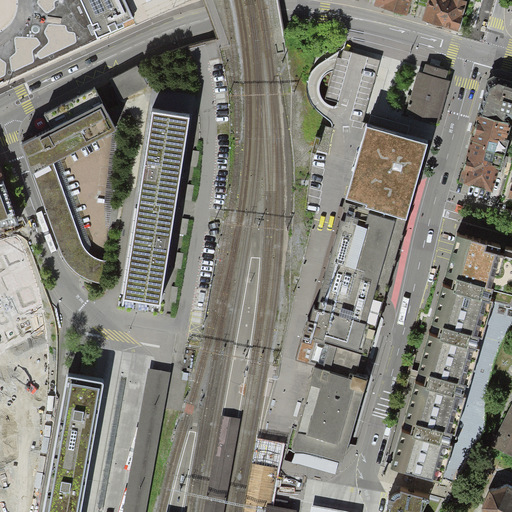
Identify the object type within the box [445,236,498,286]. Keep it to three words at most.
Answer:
building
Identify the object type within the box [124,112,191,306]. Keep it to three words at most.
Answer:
building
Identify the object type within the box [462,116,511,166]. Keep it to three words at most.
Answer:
house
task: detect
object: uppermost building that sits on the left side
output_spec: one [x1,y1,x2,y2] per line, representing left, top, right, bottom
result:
[78,0,134,40]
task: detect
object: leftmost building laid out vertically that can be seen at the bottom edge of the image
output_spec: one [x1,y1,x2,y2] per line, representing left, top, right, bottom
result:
[43,376,106,512]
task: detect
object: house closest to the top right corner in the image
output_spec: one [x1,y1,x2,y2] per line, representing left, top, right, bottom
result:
[421,0,466,33]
